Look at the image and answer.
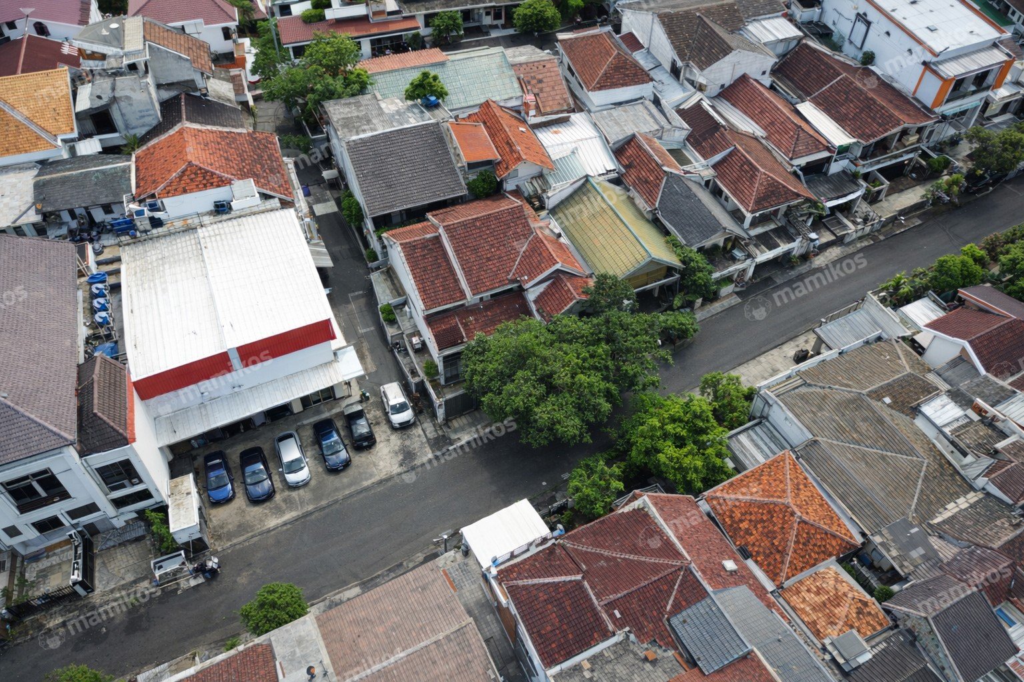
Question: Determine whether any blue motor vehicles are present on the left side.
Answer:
Yes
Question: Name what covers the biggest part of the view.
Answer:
buildings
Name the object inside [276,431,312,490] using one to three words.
car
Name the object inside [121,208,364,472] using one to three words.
building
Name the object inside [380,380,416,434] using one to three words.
car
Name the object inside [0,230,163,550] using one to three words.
house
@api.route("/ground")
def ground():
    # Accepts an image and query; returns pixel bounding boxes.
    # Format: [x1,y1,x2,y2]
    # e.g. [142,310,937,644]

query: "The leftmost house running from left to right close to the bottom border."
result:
[158,610,336,682]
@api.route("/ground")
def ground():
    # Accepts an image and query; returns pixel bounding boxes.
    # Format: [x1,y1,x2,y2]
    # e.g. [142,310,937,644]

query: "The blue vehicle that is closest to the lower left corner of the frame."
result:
[202,452,234,505]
